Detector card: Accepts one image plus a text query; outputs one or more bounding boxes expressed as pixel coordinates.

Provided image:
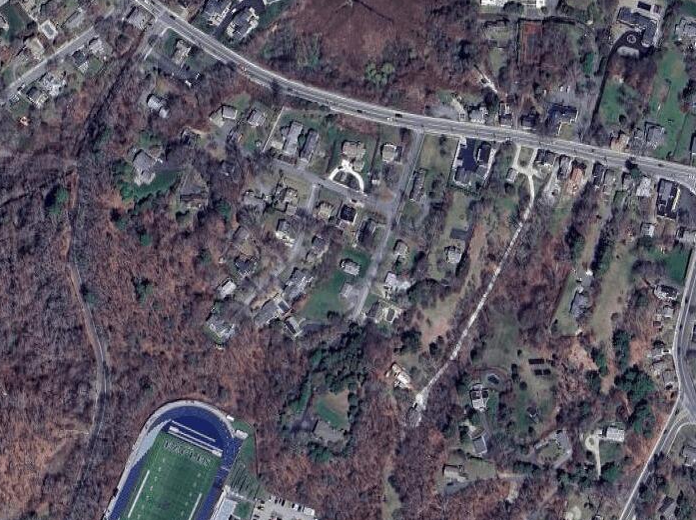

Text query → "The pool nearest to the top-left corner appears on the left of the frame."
[39,20,58,38]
